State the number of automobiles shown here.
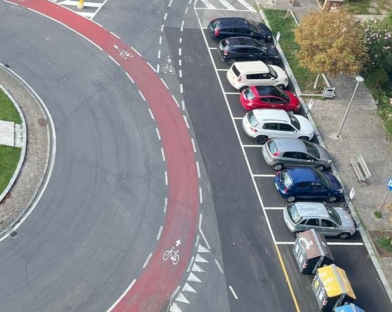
eight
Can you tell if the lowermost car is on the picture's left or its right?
right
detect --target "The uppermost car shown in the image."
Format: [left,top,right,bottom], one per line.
[205,11,273,41]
